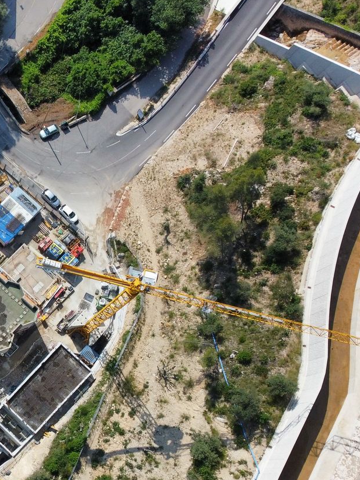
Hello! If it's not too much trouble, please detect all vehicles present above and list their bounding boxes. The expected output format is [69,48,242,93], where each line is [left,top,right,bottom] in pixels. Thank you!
[38,185,62,209]
[35,281,78,328]
[56,202,81,227]
[37,123,61,140]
